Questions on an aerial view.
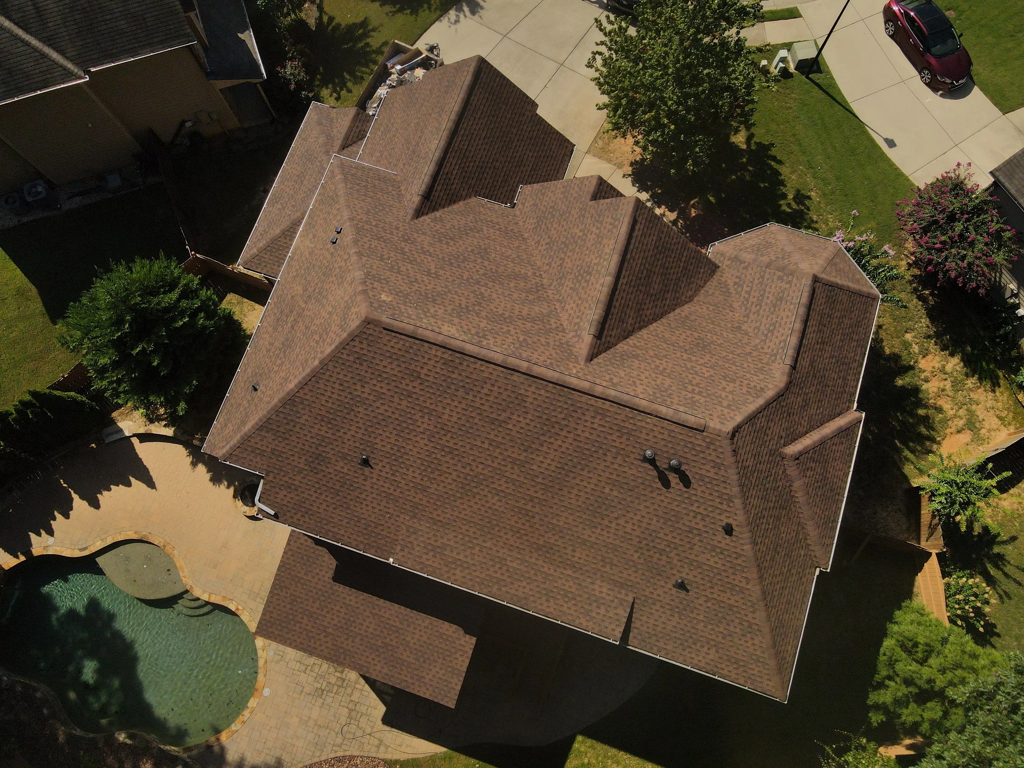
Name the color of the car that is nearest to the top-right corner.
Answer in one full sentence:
In this view, the car that is nearest to the top-right corner is black.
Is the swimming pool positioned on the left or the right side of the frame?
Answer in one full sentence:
It is on the left.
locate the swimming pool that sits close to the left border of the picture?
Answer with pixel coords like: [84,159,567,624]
[0,531,267,757]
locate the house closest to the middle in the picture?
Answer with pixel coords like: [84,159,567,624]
[199,54,882,708]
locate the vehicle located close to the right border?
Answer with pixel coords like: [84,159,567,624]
[880,0,974,93]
